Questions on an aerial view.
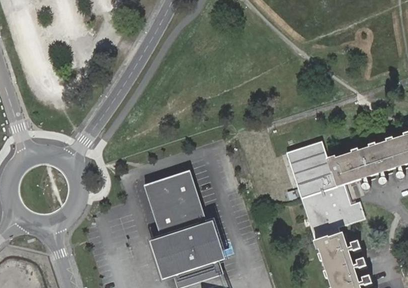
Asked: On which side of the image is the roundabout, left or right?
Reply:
left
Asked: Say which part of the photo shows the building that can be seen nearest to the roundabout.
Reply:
bottom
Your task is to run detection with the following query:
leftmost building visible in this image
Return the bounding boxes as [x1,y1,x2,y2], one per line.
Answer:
[144,170,228,288]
